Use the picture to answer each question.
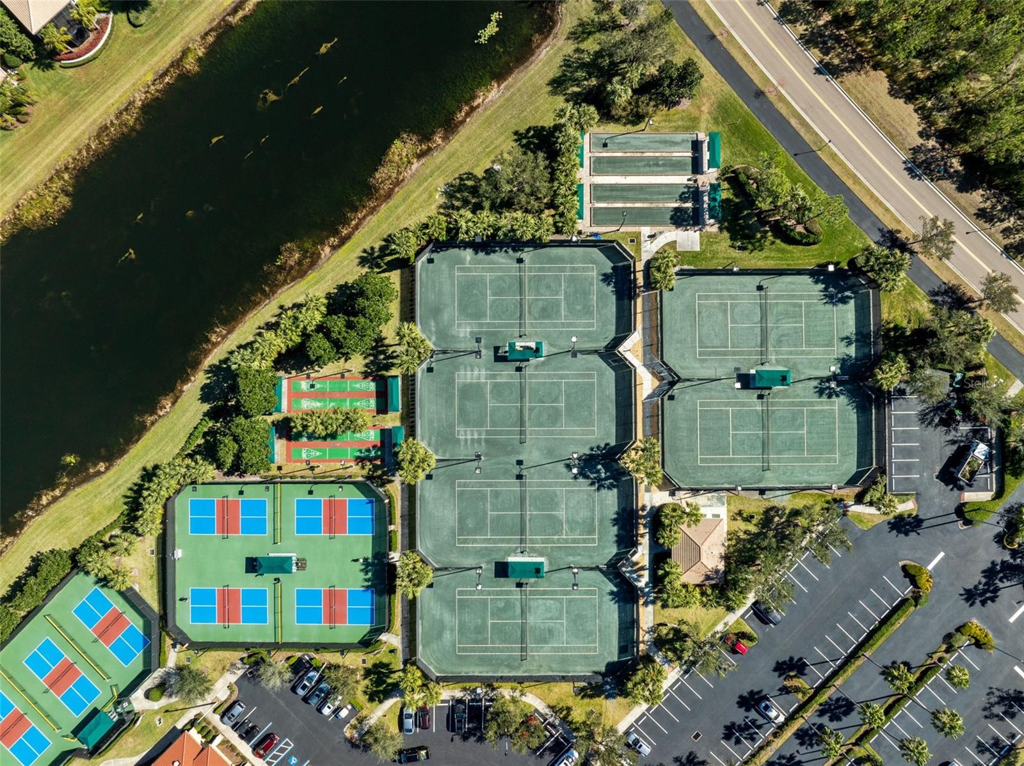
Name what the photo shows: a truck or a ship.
truck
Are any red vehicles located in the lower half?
Yes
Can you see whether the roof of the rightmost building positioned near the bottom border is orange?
Yes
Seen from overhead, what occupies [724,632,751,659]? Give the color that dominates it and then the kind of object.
red car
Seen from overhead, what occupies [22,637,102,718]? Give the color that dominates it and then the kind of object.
blue sports court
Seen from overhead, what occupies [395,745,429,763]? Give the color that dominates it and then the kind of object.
black vehicle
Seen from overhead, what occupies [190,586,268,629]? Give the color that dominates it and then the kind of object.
blue sports court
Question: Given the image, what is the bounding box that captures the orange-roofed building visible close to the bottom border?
[155,730,238,766]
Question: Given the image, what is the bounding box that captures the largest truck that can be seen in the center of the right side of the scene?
[952,440,988,484]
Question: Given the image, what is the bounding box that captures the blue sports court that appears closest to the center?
[295,496,374,539]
